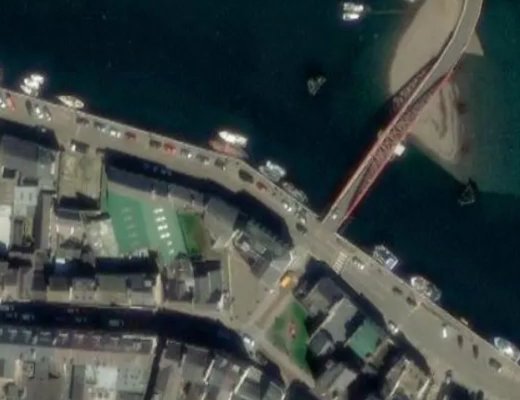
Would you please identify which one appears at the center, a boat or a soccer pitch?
boat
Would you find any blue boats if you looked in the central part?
No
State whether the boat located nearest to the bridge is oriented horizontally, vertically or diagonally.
diagonally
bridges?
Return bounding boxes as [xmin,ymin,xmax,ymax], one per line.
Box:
[320,0,481,233]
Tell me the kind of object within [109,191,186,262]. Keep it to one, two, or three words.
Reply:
sports court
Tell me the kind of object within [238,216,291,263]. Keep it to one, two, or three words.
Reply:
building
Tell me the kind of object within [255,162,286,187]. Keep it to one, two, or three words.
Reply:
boat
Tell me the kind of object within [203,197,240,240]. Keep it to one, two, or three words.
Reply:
house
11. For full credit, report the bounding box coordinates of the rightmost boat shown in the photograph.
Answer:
[492,341,520,365]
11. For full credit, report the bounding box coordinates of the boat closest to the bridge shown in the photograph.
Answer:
[279,183,309,207]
